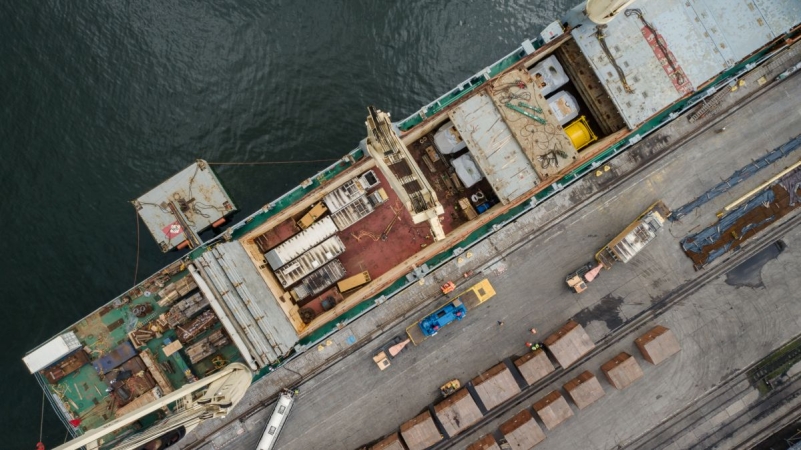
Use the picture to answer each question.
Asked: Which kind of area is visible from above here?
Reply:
port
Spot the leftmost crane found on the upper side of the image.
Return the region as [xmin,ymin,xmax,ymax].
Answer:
[364,103,447,240]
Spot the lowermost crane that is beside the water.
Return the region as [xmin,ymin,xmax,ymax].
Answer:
[48,362,256,450]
